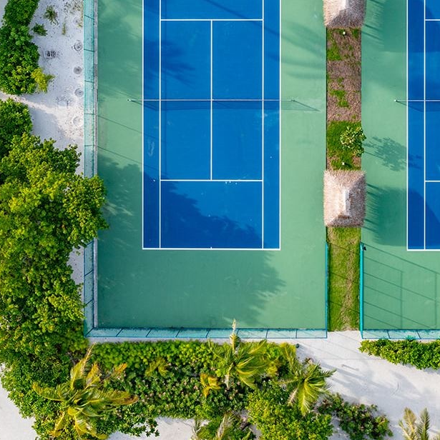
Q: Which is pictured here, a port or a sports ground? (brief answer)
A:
sports ground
